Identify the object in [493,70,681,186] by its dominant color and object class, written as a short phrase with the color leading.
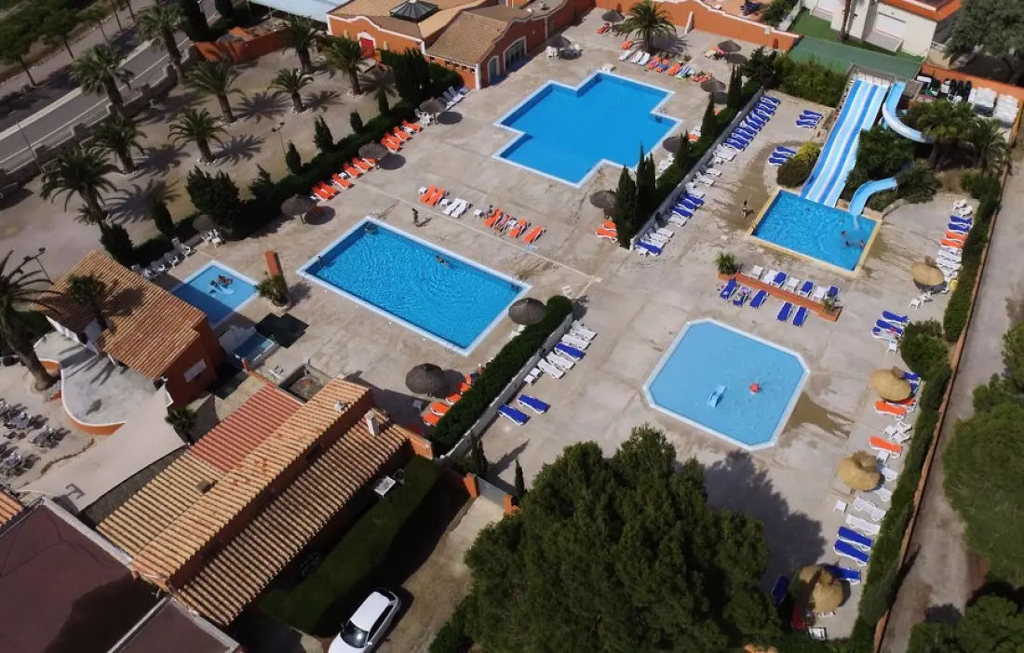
blue swimming pool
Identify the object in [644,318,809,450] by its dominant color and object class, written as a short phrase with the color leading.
blue swimming pool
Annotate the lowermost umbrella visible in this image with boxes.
[796,571,846,617]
